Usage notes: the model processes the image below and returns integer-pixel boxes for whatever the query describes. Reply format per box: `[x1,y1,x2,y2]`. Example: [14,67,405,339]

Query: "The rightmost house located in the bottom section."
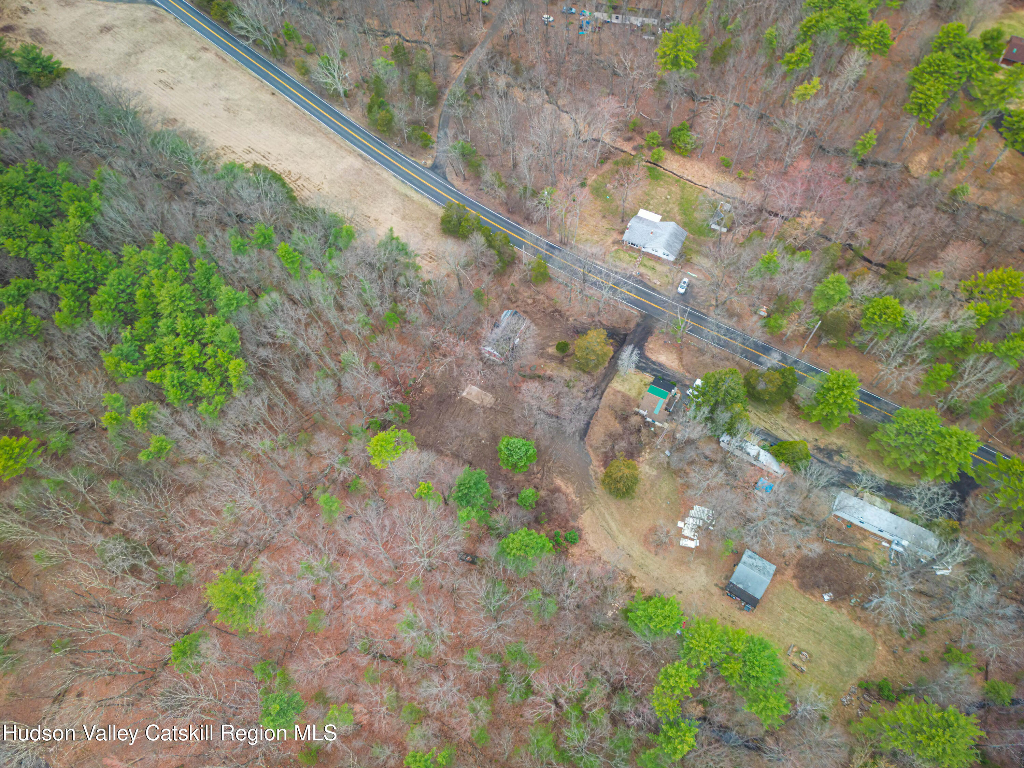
[833,492,940,557]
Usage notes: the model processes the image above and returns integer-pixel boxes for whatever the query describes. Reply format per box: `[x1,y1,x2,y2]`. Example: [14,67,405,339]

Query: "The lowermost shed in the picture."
[722,549,776,608]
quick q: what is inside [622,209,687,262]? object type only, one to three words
house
